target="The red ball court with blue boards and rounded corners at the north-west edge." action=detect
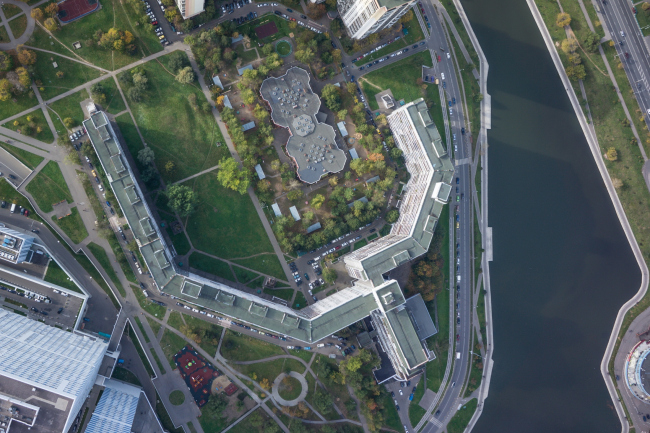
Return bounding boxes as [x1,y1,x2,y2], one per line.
[58,0,97,21]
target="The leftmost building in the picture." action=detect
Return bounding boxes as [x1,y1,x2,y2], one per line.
[0,227,34,265]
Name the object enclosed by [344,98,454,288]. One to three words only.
building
